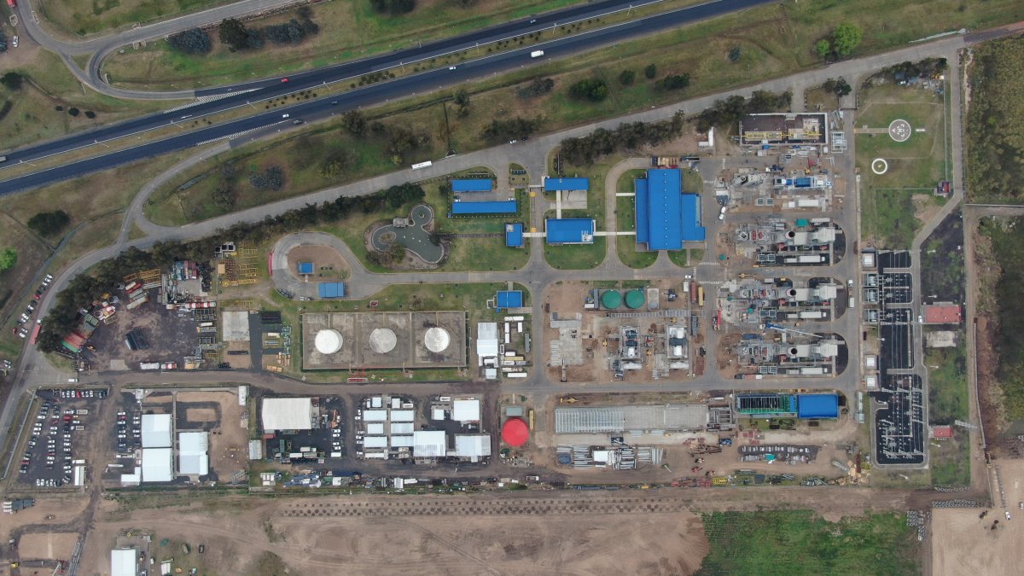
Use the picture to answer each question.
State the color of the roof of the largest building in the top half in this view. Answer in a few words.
blue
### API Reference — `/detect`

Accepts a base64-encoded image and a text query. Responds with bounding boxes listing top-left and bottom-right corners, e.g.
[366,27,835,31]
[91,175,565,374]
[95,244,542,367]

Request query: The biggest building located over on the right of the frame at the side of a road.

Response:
[634,169,705,251]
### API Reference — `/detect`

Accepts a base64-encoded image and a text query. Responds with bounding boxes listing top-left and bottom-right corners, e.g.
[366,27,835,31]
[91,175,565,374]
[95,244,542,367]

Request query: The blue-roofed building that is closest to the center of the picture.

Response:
[496,291,522,308]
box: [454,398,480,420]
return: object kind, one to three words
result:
building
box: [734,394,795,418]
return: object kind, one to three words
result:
shed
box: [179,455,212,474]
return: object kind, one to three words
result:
building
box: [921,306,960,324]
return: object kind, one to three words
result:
house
